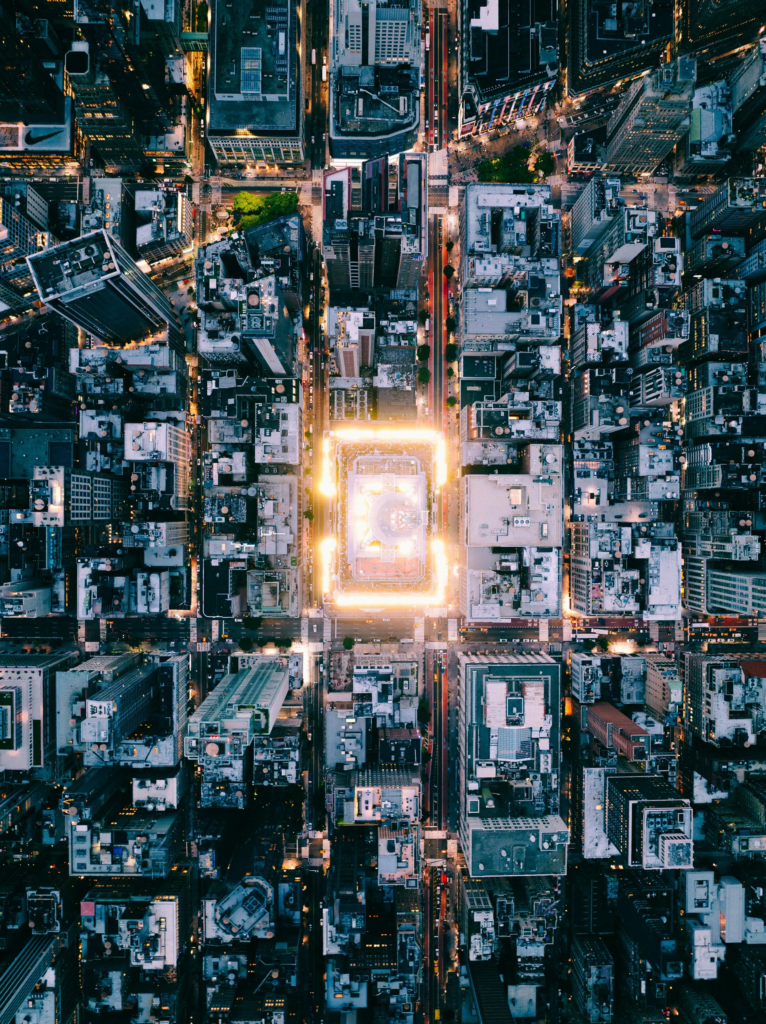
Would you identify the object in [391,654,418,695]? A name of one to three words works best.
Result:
building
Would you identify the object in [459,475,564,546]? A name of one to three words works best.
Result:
building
